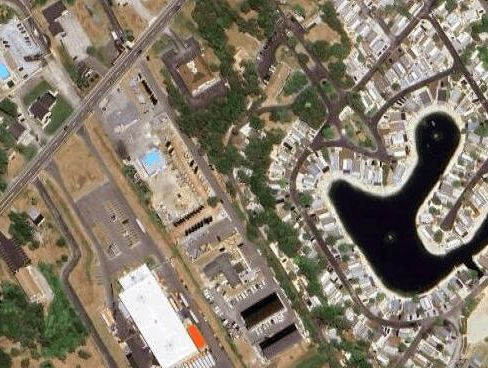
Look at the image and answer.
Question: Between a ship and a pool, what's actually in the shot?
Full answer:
There is a pool in the scene.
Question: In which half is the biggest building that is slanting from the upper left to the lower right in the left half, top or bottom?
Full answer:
The bottom half of the photo is where the biggest building that is slanting from the upper left to the lower right in the left half is.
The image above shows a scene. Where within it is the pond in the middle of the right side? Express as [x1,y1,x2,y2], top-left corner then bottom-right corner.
[328,112,488,298]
